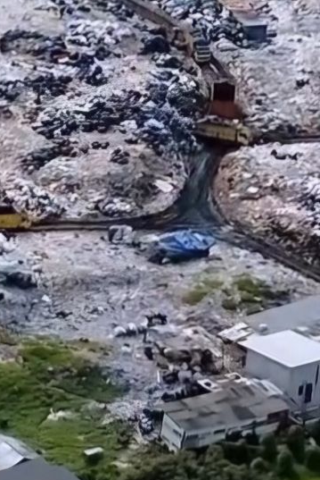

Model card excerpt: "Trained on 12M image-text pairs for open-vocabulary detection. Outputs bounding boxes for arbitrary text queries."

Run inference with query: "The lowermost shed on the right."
[159,375,290,455]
